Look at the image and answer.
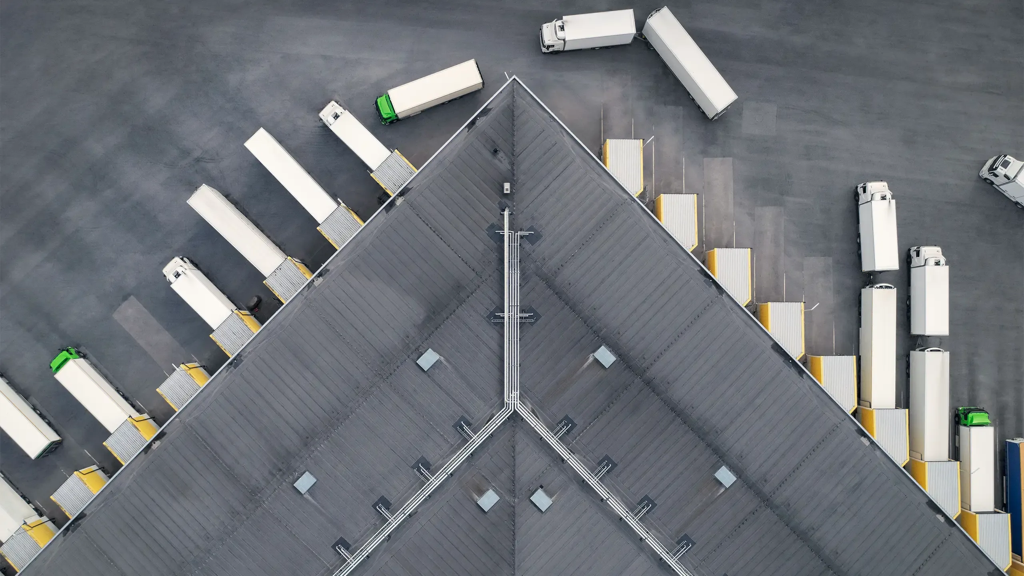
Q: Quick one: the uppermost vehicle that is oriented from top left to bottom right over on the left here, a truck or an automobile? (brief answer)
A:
truck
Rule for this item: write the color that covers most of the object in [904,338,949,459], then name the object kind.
white trailer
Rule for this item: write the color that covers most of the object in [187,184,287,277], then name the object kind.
white trailer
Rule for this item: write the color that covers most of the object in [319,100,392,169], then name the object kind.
white truck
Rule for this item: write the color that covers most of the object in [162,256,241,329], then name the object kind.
white truck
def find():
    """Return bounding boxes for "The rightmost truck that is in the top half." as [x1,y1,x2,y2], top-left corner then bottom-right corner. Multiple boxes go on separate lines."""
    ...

[976,151,1024,201]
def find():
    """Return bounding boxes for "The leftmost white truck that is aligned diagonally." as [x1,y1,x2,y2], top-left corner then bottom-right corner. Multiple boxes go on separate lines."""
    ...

[0,362,70,460]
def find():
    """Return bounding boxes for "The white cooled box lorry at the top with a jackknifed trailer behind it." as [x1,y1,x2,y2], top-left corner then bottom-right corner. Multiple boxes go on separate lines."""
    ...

[540,9,636,55]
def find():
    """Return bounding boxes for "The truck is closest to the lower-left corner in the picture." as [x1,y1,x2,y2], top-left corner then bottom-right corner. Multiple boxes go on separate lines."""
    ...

[0,475,39,541]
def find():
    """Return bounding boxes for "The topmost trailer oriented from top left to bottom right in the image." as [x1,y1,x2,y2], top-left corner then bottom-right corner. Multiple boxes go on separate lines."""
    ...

[636,7,737,120]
